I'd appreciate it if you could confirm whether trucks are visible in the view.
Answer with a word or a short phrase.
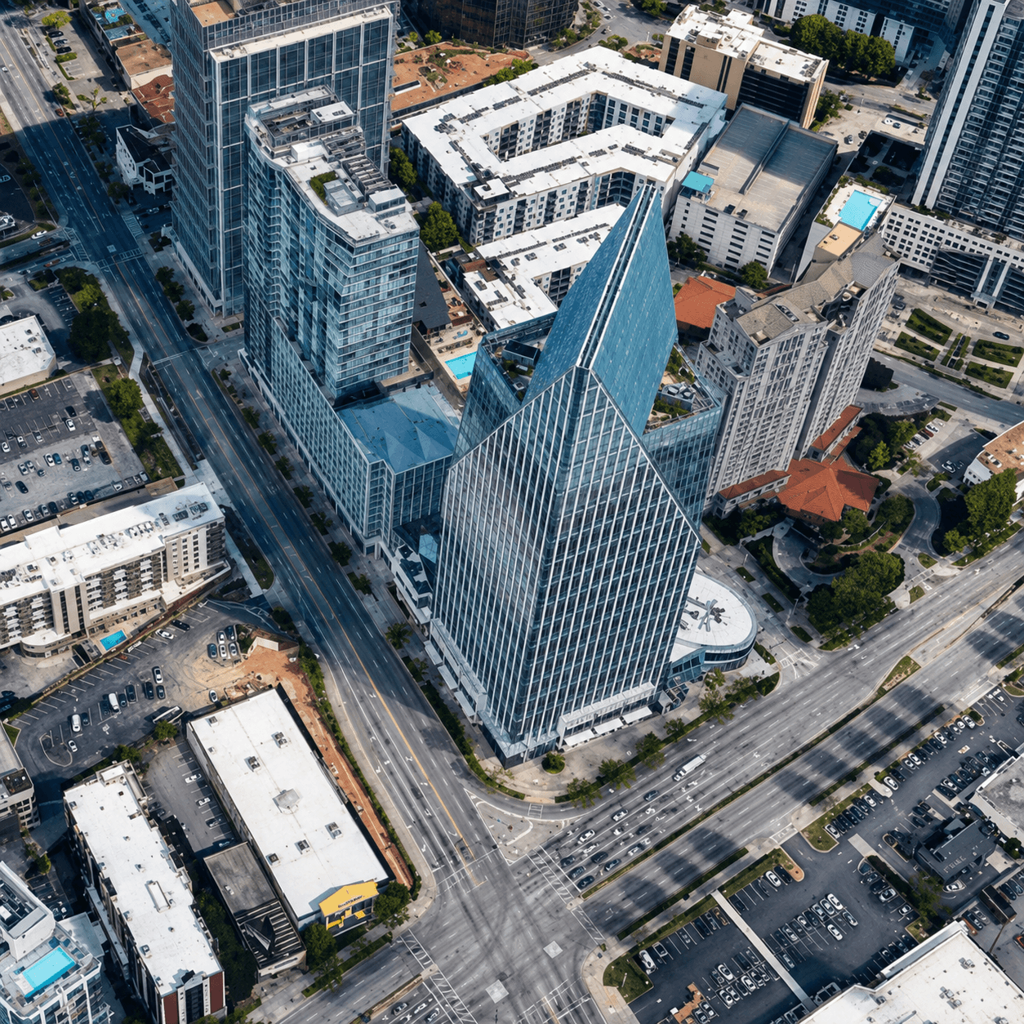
Yes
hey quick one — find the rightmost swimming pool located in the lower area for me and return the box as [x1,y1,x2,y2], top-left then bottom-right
[99,630,127,650]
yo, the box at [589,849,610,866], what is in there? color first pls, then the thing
black car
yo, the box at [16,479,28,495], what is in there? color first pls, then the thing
black vehicle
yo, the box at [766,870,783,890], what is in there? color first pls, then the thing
white car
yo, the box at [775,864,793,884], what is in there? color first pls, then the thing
black car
